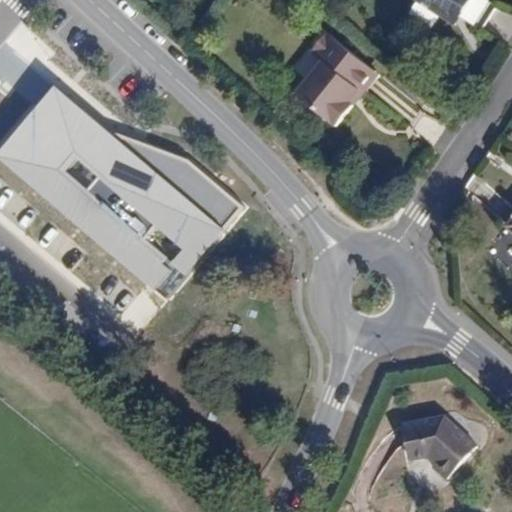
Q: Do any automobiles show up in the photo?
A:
Yes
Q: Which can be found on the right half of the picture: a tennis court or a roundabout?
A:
roundabout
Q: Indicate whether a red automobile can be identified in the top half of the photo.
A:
Yes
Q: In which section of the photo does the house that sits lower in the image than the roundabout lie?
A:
bottom right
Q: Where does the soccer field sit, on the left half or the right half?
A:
left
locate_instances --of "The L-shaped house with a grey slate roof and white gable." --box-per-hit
[400,414,478,480]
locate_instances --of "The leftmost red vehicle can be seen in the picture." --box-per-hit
[120,77,138,98]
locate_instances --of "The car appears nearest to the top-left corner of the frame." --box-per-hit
[50,9,66,30]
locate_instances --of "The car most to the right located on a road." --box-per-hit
[335,380,350,404]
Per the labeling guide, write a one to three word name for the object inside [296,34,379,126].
house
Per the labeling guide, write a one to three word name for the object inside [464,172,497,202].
building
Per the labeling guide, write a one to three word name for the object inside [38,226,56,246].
car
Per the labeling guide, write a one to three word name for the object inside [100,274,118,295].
car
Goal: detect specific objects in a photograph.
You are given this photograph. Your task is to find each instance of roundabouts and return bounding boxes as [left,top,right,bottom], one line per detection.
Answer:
[312,230,436,356]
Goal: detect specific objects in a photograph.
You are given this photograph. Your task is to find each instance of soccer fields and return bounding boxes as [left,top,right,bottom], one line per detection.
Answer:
[0,399,142,512]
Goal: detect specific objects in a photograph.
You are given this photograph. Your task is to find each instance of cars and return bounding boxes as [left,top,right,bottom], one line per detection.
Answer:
[66,28,86,50]
[38,226,56,246]
[62,246,81,268]
[120,77,138,98]
[100,274,118,295]
[168,45,188,66]
[114,287,132,308]
[116,0,136,17]
[145,25,165,44]
[335,380,350,404]
[50,9,66,30]
[17,206,35,227]
[0,188,14,208]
